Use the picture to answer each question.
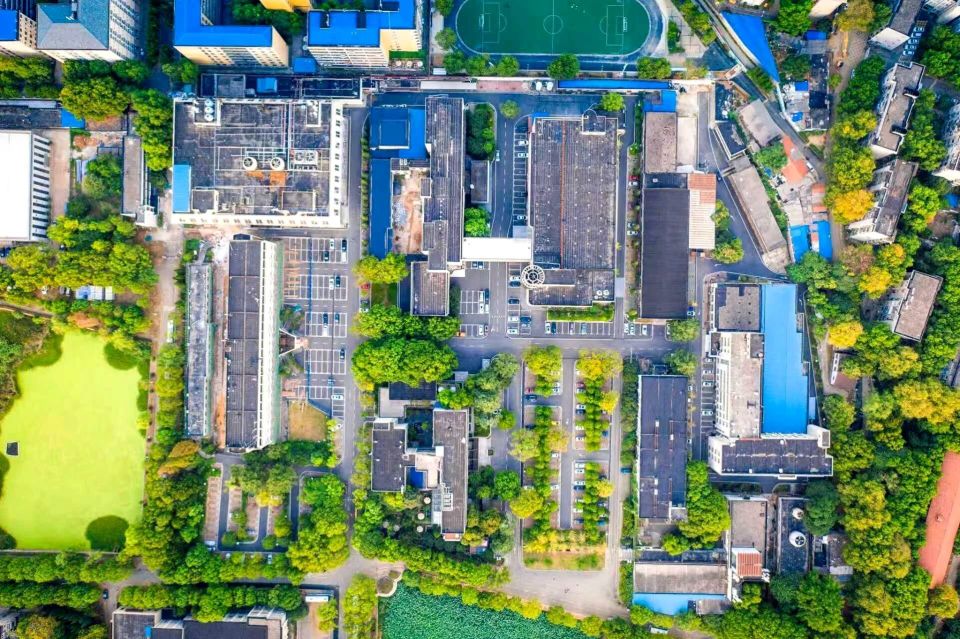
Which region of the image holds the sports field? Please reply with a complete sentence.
The sports field sits in the top section of the image.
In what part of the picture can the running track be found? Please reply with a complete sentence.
You can find the running track in the top area of the picture.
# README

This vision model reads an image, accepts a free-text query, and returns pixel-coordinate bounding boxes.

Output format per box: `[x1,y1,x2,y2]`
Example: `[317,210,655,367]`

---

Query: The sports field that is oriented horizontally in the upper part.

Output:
[439,0,668,72]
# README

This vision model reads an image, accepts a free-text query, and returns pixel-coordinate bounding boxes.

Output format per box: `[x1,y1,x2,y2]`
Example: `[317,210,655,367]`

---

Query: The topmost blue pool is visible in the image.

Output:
[408,468,425,488]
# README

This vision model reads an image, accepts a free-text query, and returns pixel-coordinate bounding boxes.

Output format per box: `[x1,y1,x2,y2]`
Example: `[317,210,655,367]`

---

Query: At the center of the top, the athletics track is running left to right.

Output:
[440,0,667,71]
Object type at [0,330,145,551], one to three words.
pond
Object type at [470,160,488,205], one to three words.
house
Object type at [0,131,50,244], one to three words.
building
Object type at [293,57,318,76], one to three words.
shed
